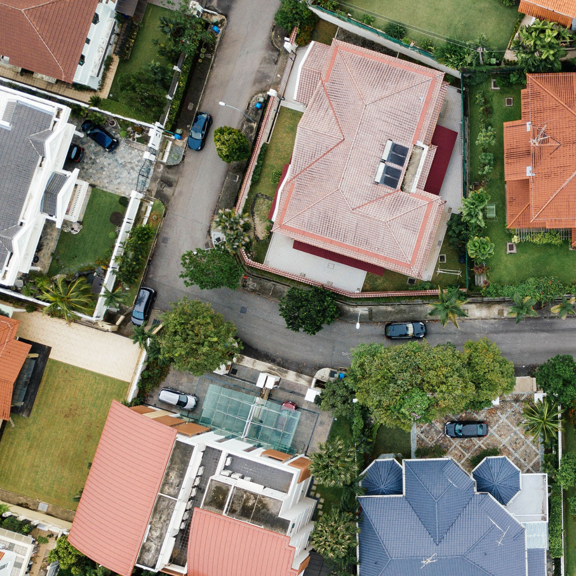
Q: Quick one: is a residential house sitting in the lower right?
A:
Yes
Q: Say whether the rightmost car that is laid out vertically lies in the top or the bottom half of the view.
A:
bottom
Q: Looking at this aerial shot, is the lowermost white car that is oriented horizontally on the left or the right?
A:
left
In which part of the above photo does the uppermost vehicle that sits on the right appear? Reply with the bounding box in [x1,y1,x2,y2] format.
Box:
[384,321,427,339]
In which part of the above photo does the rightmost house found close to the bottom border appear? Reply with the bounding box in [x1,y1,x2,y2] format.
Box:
[356,454,548,576]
